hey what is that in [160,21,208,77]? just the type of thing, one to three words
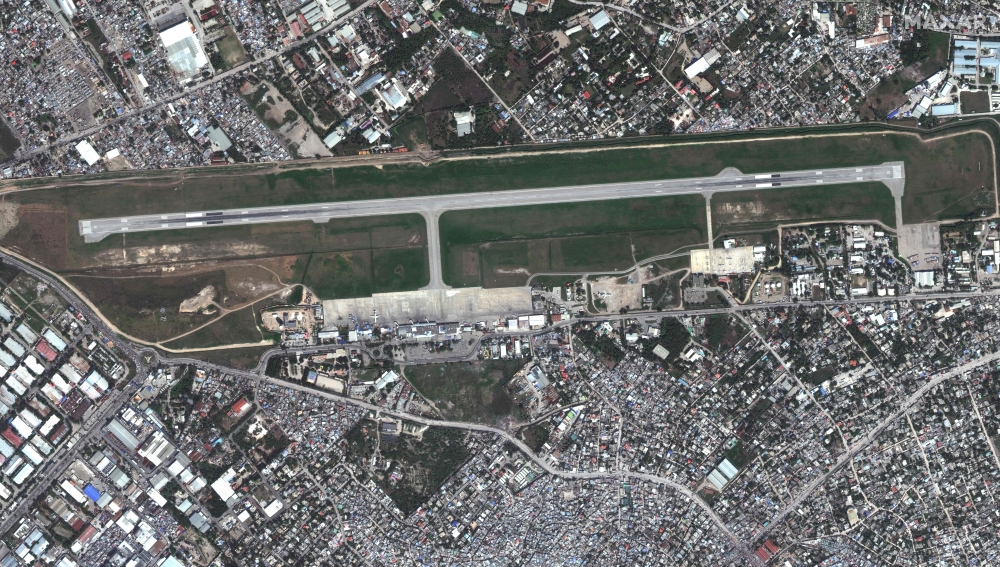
building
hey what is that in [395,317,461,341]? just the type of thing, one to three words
building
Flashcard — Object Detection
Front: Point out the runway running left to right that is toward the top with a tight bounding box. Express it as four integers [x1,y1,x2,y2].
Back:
[79,161,904,243]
